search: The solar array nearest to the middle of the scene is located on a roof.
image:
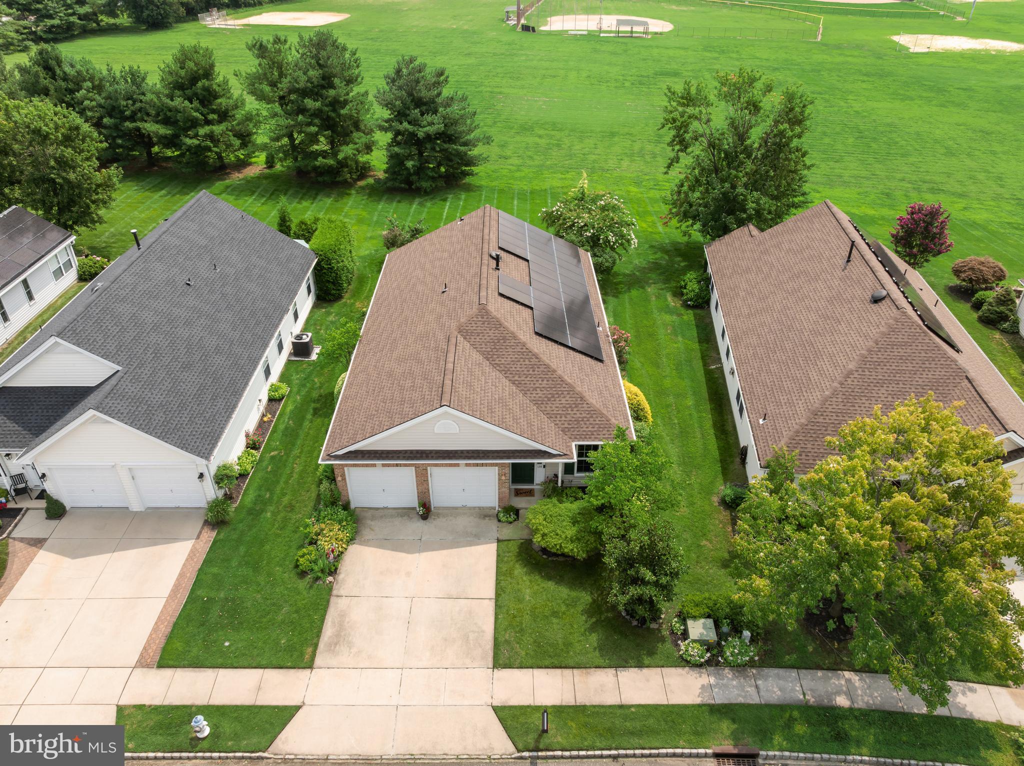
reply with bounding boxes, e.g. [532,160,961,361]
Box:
[499,210,602,360]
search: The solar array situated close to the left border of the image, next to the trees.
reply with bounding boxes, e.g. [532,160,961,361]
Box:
[0,209,72,291]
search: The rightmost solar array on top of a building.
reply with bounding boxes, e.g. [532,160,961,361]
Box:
[848,218,959,350]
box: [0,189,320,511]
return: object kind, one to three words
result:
house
